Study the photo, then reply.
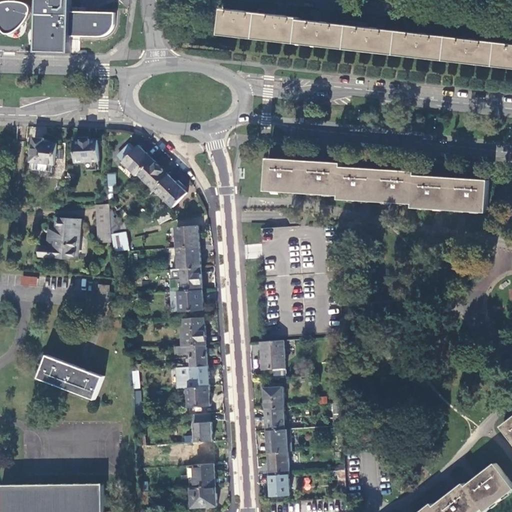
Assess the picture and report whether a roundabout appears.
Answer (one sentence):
Yes, there is a roundabout in the image.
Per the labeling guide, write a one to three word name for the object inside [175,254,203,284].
house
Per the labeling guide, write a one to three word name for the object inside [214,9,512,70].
building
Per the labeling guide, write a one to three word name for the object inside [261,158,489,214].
building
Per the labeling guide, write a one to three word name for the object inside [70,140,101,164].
house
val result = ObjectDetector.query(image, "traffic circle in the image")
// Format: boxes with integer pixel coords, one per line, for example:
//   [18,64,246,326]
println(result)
[133,71,237,124]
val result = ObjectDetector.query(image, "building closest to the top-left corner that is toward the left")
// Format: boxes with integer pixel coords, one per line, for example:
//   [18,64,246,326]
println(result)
[0,0,31,34]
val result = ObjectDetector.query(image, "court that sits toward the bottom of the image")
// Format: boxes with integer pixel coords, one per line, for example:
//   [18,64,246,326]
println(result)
[21,422,121,490]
